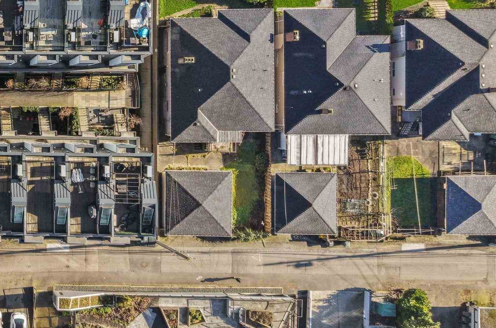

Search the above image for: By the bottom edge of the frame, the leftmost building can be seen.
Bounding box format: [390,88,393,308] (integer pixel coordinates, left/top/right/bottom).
[370,300,394,316]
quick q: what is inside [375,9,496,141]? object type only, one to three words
house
